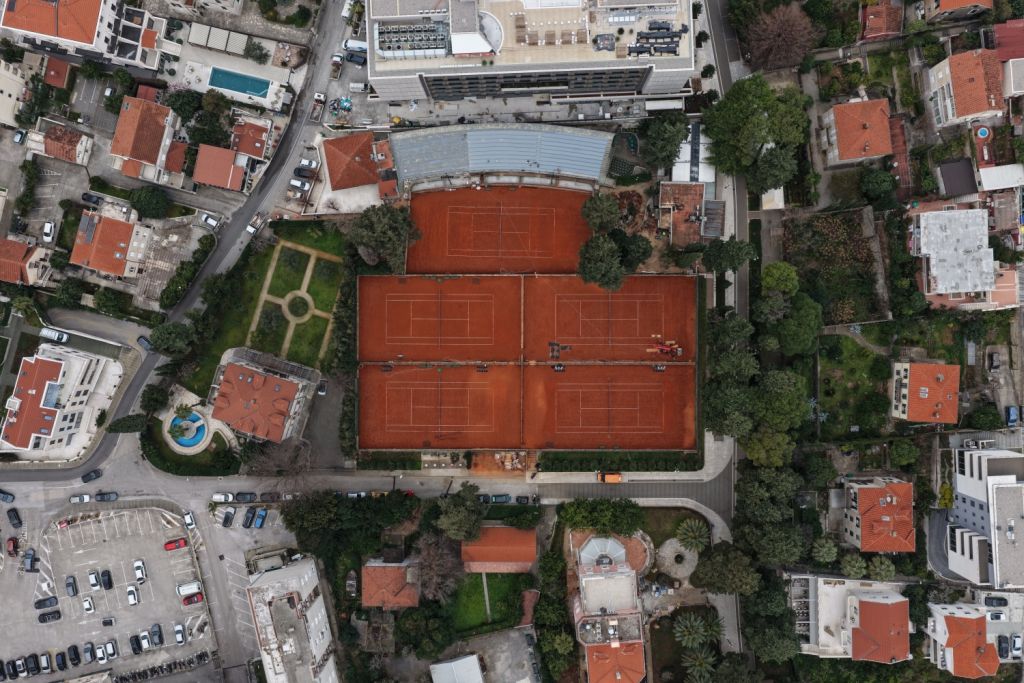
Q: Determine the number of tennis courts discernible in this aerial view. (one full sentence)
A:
The photo contains 5 tennis courts.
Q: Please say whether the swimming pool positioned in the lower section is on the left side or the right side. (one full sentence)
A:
The swimming pool positioned in the lower section sits on the left side.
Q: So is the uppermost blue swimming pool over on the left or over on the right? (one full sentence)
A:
You can find the uppermost blue swimming pool on the left side of the picture.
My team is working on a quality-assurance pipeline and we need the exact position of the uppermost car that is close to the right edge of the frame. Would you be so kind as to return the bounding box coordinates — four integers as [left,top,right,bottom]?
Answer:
[988,352,1000,371]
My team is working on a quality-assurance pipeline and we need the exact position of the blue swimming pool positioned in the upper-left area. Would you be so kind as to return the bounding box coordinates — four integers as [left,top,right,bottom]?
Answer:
[207,65,272,100]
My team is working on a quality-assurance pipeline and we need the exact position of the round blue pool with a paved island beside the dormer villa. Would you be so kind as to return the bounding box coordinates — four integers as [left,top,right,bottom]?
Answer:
[167,410,208,451]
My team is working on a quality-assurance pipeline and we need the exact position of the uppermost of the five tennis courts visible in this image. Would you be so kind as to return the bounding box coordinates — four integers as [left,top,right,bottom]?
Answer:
[406,186,593,272]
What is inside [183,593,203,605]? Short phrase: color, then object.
red vehicle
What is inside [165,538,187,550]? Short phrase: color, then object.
red vehicle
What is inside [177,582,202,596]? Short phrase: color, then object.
white car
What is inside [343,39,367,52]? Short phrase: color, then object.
white vehicle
